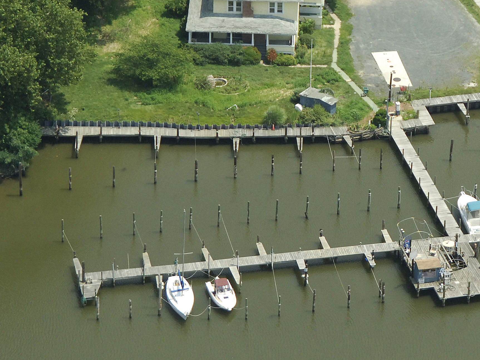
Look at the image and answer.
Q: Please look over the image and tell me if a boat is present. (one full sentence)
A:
Yes, the picture does show a boat.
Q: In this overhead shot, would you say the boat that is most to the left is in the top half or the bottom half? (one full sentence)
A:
You can find the boat that is most to the left in the bottom half.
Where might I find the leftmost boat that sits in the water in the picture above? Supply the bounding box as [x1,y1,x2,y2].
[163,207,192,322]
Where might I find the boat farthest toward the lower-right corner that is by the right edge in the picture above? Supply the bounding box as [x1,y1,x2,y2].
[456,190,480,235]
